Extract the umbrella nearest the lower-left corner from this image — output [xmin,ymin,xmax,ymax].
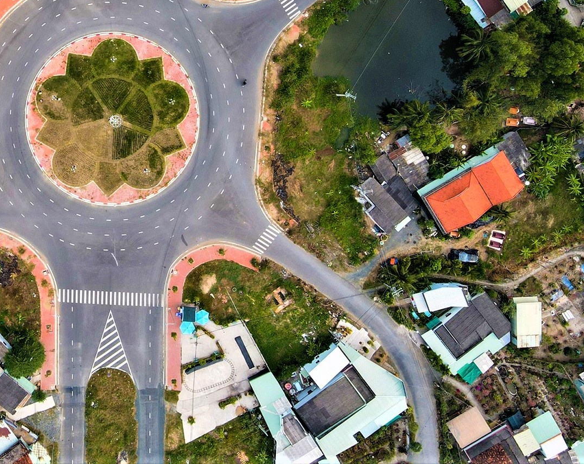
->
[180,322,194,335]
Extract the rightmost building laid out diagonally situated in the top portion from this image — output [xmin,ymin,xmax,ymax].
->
[413,132,531,233]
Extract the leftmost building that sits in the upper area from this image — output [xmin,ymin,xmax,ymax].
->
[357,134,430,234]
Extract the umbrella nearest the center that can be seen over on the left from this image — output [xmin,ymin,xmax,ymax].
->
[195,310,208,324]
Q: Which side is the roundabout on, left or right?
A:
left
